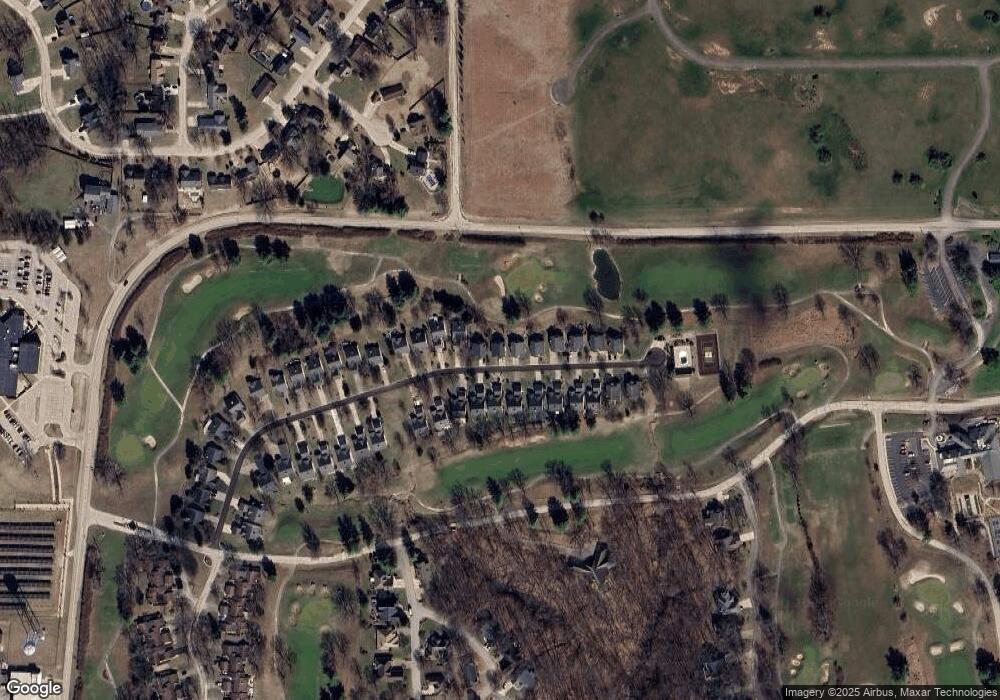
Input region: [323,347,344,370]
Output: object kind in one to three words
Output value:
house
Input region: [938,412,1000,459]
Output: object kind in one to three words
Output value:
building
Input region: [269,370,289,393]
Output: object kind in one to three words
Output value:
house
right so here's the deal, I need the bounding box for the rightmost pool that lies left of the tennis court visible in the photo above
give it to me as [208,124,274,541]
[674,345,692,367]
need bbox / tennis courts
[696,334,720,376]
